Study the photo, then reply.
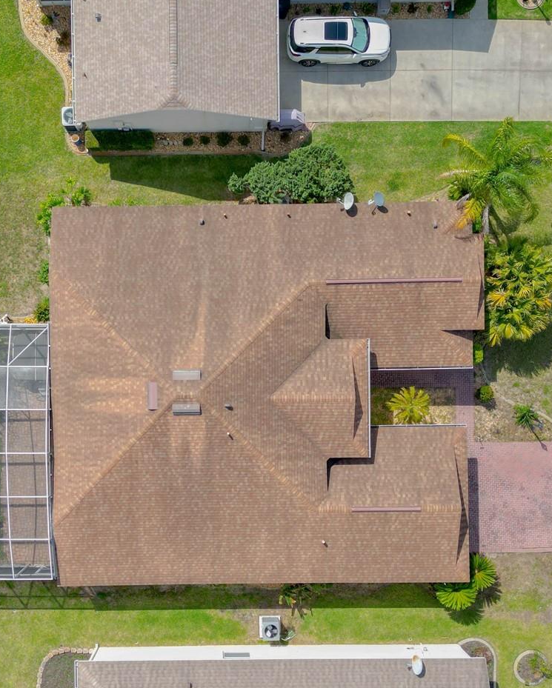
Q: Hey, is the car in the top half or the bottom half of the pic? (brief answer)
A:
top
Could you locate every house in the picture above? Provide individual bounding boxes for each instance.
[46,200,486,586]
[38,0,377,153]
[74,646,490,688]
